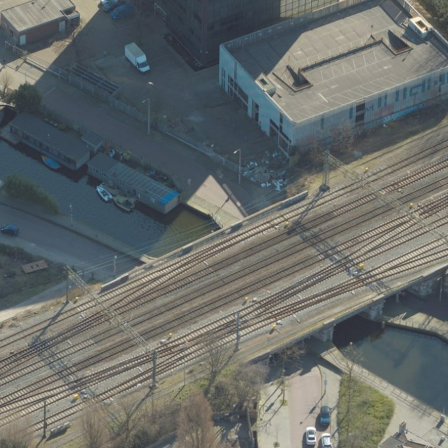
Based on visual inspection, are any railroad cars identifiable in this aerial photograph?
No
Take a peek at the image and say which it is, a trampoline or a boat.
boat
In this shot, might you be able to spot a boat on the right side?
No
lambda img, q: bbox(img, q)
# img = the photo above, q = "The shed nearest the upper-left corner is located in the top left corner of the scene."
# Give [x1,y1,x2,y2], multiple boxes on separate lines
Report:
[0,0,81,43]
